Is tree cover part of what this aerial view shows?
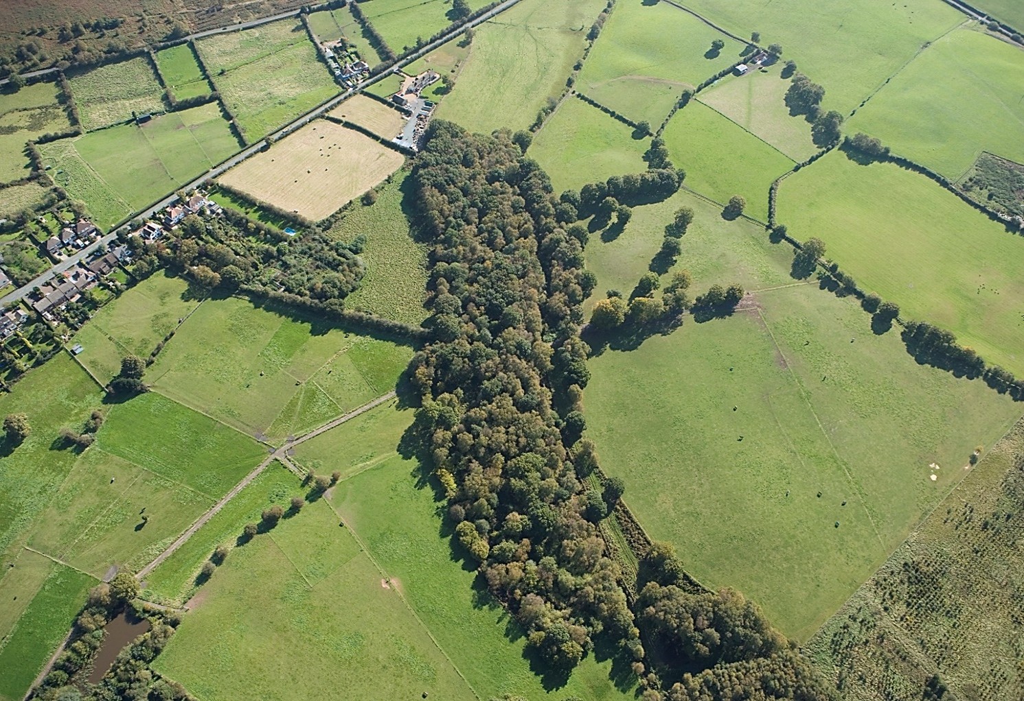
Yes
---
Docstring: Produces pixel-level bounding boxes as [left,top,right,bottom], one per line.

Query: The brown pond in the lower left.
[90,607,151,684]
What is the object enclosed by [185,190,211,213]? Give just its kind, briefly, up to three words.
house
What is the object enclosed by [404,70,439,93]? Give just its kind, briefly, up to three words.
house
